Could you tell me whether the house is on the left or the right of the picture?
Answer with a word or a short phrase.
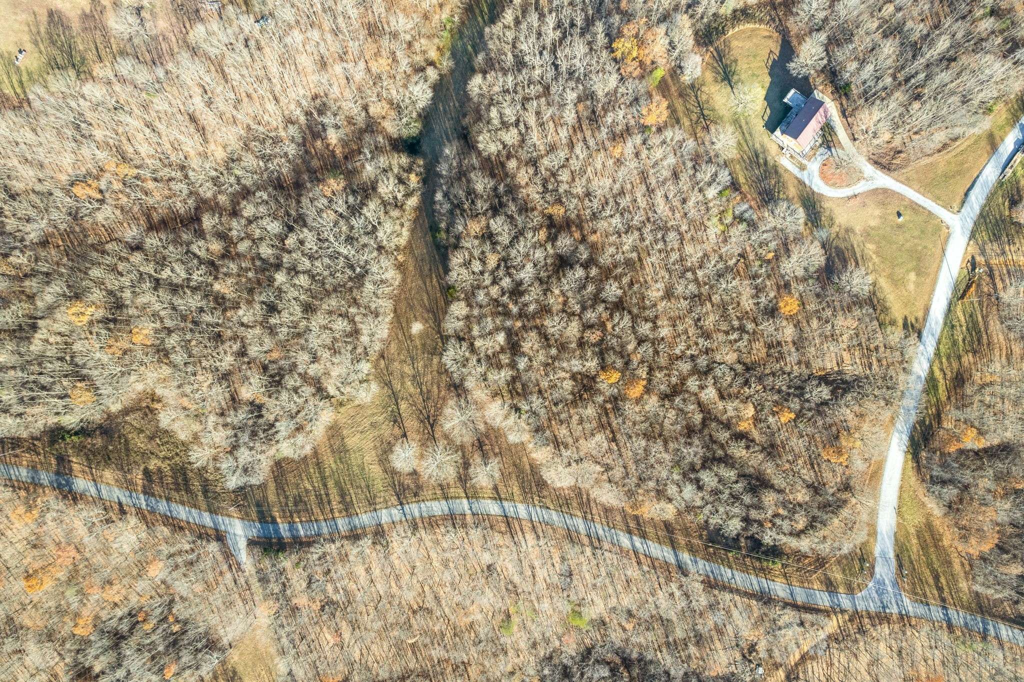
right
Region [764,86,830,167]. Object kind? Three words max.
house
